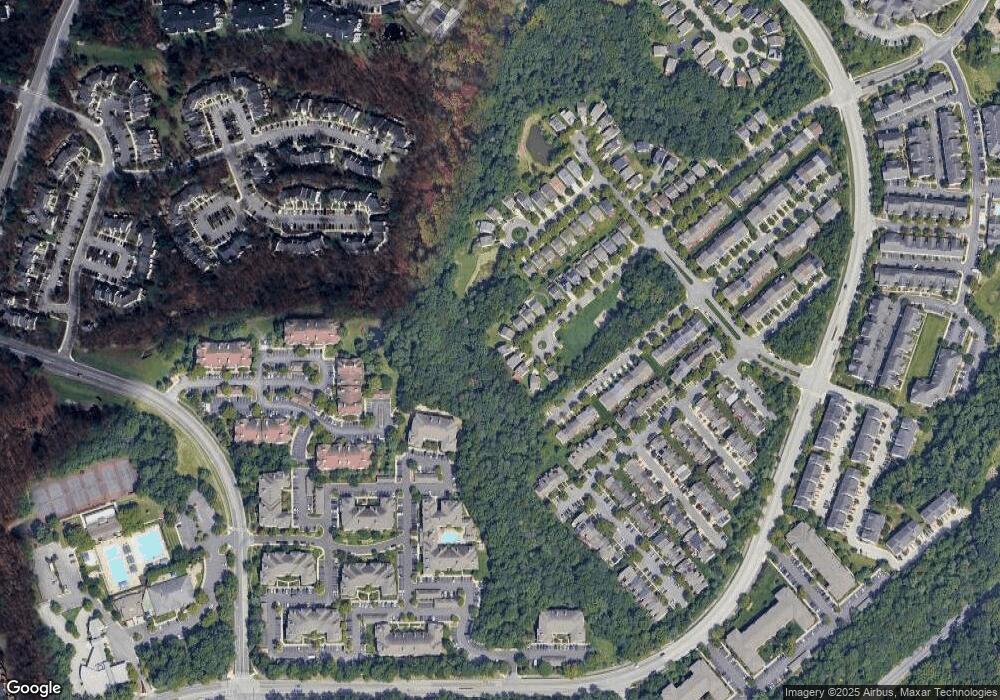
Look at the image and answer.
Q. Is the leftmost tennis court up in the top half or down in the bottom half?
bottom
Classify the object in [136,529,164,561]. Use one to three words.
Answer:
swimming pool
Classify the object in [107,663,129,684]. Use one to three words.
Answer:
building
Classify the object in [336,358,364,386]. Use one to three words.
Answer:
building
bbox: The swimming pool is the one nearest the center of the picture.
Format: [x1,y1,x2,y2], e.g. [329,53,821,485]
[440,529,461,544]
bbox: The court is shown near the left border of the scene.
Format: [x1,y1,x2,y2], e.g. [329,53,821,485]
[31,459,139,521]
